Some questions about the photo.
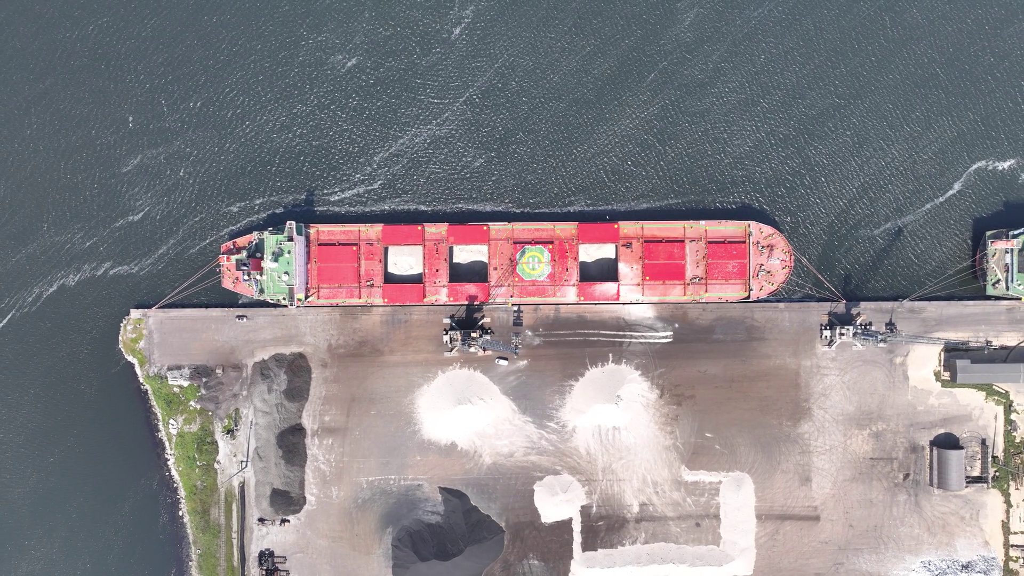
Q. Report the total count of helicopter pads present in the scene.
1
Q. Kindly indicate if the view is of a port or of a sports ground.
port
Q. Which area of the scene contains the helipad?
center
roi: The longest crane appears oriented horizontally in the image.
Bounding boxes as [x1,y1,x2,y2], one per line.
[820,314,998,351]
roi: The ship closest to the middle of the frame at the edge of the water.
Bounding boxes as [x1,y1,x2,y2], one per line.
[213,219,795,310]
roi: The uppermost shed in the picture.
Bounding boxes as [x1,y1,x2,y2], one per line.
[946,356,1024,384]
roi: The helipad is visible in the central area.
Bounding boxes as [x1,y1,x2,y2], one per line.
[497,227,569,298]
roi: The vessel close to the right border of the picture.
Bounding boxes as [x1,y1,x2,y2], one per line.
[975,223,1024,302]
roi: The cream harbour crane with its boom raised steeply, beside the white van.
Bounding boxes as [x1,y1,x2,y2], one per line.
[442,317,521,357]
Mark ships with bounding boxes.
[975,223,1024,302]
[213,219,795,310]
